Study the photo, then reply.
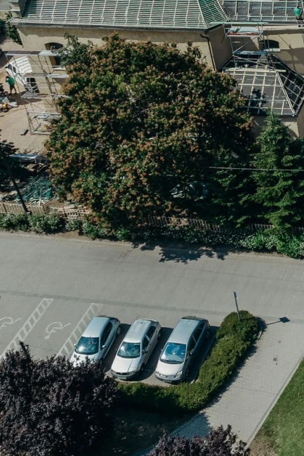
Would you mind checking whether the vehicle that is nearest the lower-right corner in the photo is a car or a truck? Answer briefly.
car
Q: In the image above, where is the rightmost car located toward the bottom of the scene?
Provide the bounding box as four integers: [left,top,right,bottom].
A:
[155,315,211,384]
